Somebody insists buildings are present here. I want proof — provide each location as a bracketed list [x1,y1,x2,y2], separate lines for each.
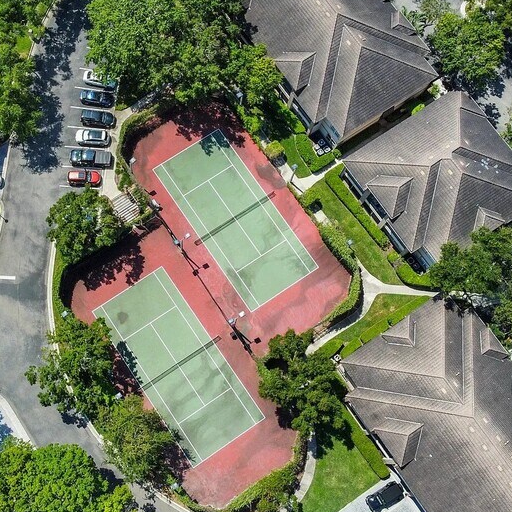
[342,91,512,269]
[213,0,438,150]
[338,296,512,512]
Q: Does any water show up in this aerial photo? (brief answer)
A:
No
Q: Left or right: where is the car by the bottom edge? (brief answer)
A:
right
